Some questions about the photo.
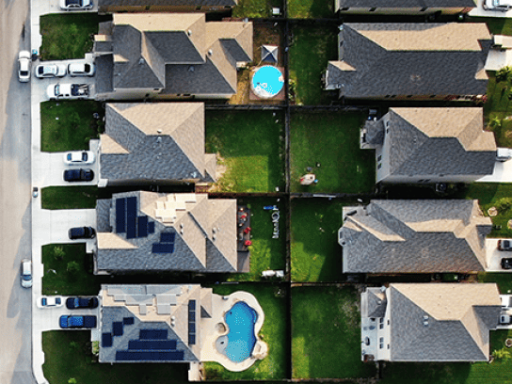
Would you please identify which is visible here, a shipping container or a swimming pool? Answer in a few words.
swimming pool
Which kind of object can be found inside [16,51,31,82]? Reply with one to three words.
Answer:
car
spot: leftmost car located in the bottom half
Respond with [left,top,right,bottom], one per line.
[19,259,33,287]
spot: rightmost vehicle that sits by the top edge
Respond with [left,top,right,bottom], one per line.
[481,0,512,13]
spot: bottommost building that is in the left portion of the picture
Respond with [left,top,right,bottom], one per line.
[99,284,213,363]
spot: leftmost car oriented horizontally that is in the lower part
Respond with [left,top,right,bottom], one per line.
[34,294,65,309]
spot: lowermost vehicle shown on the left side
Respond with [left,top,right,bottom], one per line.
[59,313,97,329]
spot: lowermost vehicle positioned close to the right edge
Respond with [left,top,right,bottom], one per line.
[497,312,512,326]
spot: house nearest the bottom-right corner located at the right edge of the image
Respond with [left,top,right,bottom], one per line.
[363,283,503,360]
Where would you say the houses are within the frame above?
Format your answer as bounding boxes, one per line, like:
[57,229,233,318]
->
[360,106,500,183]
[99,284,213,363]
[339,198,493,273]
[363,283,503,360]
[95,12,253,99]
[97,0,235,11]
[95,190,237,273]
[332,0,476,13]
[325,21,490,99]
[100,101,215,186]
